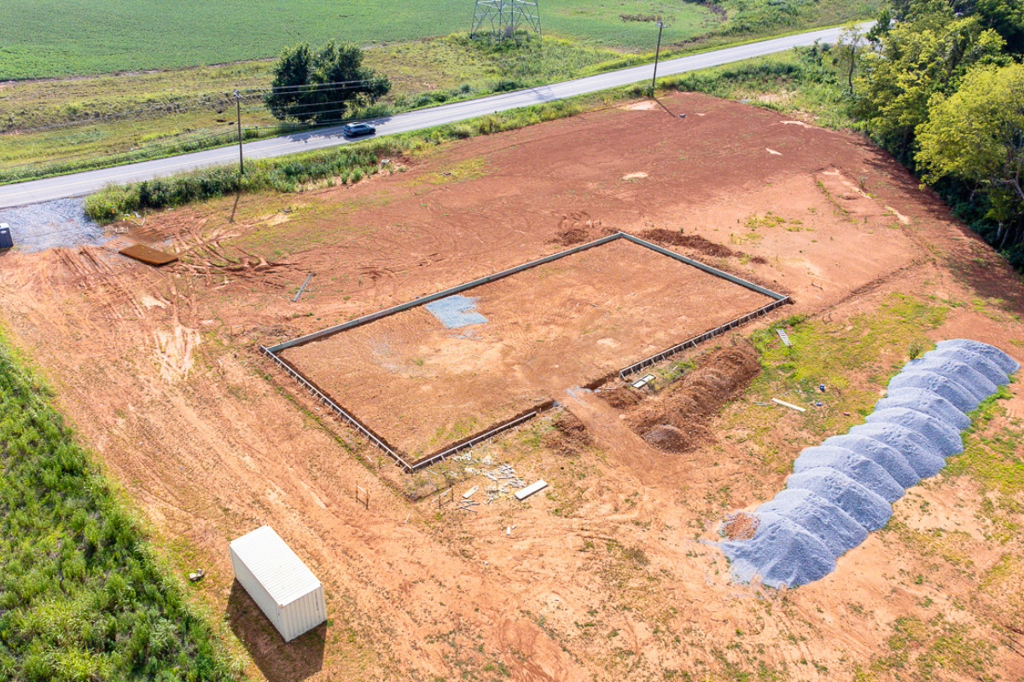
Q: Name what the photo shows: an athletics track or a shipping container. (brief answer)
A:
shipping container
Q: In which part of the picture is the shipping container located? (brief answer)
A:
bottom left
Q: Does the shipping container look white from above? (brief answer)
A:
Yes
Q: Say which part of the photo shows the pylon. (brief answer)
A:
top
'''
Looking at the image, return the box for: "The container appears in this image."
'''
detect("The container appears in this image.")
[229,525,327,642]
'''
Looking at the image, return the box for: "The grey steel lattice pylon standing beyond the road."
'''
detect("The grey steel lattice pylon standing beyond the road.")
[468,0,544,47]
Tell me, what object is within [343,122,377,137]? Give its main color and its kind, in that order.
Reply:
blue car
